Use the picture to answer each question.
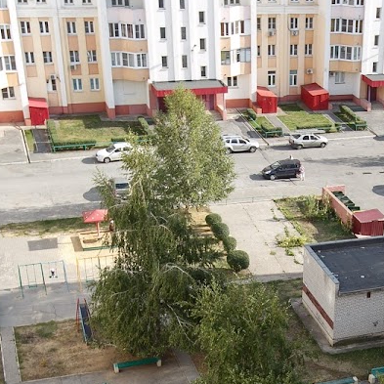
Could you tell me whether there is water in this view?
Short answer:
No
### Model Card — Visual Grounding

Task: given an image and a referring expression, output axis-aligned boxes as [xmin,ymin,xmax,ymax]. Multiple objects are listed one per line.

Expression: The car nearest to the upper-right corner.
[285,132,329,151]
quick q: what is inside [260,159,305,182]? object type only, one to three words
car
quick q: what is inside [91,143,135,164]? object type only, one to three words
car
